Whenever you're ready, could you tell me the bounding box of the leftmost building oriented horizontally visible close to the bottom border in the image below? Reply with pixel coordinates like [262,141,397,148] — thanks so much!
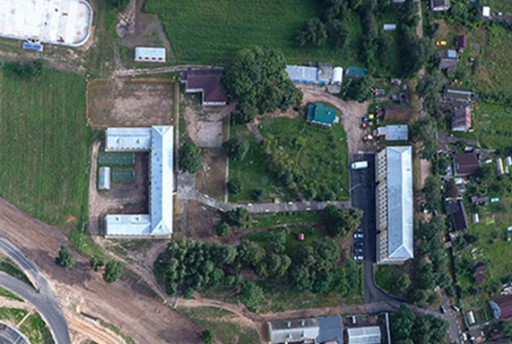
[265,318,320,343]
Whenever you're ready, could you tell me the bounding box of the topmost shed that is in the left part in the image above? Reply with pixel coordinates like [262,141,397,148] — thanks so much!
[135,46,165,62]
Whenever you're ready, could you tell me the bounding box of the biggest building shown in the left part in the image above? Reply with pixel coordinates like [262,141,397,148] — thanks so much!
[106,126,179,241]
